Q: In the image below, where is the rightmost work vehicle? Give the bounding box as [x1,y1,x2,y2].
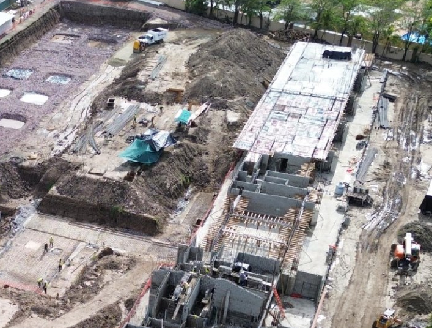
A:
[393,229,423,278]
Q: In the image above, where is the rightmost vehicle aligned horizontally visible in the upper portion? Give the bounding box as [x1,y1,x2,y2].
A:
[138,28,179,46]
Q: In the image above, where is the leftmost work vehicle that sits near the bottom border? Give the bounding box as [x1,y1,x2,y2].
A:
[372,304,407,328]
